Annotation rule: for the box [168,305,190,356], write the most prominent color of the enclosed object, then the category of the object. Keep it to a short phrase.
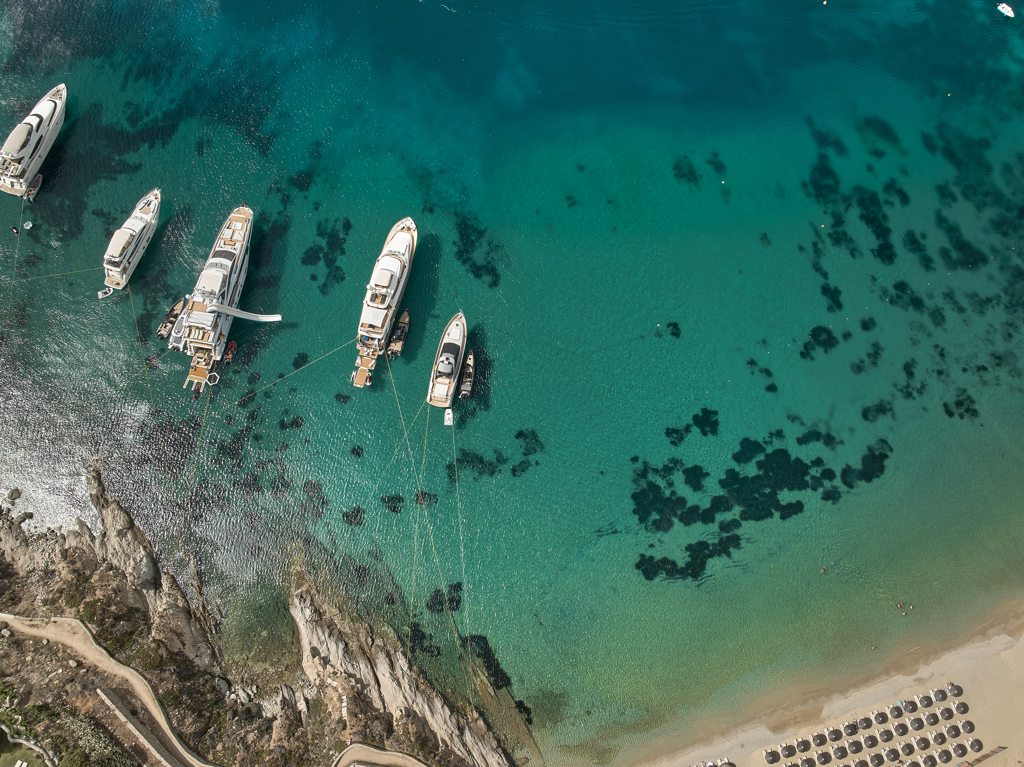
white boat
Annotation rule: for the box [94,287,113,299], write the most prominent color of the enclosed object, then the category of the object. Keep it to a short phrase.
white boat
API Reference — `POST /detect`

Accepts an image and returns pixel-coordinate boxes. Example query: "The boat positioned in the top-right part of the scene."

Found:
[997,2,1015,20]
